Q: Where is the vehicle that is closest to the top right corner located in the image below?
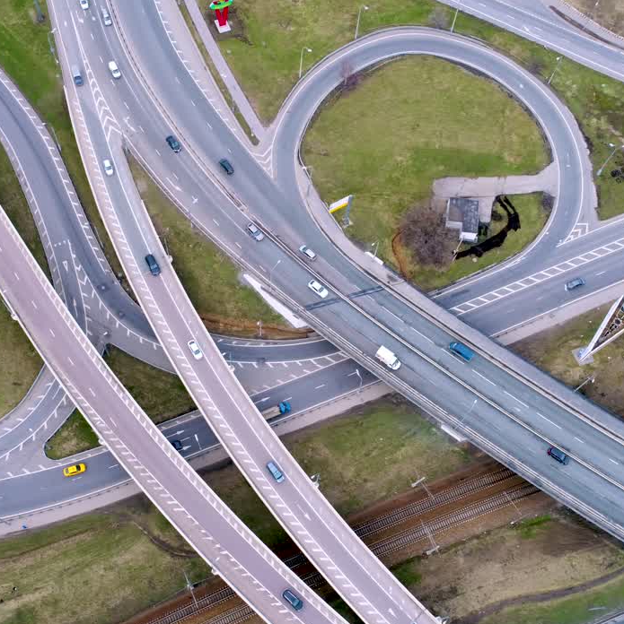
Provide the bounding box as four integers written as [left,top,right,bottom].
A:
[565,277,586,291]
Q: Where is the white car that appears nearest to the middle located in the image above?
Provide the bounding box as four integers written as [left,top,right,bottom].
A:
[306,278,328,299]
